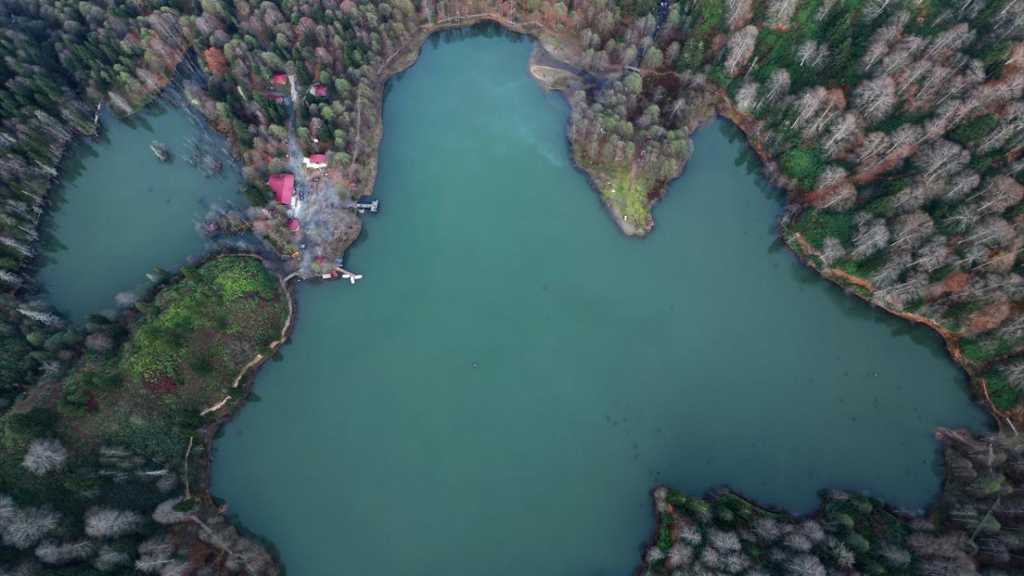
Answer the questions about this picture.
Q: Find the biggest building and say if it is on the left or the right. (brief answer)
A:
left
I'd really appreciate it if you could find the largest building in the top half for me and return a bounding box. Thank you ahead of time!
[263,174,298,208]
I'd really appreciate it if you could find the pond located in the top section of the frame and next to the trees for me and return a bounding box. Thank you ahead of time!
[14,59,287,324]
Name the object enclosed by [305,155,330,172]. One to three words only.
building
